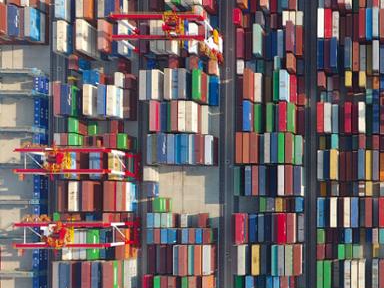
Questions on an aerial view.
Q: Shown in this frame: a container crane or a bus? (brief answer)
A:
container crane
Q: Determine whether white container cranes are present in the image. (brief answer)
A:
No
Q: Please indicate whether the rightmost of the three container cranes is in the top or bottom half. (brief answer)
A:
top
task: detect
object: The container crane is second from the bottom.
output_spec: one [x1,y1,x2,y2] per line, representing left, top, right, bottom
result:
[12,143,143,181]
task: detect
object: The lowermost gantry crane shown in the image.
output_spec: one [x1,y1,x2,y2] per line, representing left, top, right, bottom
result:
[12,215,143,253]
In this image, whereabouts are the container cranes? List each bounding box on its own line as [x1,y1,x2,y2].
[111,8,229,88]
[12,215,143,253]
[12,143,143,181]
